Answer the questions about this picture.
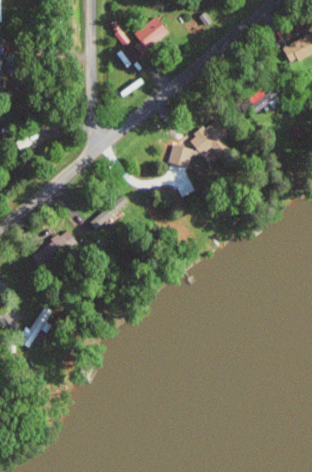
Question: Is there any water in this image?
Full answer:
Yes, the picture does contain water.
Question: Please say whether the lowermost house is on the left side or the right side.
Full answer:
The lowermost house is on the left side of the image.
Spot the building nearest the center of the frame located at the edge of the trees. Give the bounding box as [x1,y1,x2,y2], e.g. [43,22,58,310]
[91,196,128,228]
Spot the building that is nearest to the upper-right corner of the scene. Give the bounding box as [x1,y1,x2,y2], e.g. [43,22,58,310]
[282,37,312,68]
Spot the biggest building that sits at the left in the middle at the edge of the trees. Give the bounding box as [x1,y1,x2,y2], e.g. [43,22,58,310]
[32,226,78,266]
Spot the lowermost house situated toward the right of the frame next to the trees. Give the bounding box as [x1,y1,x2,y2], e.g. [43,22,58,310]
[169,124,229,170]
